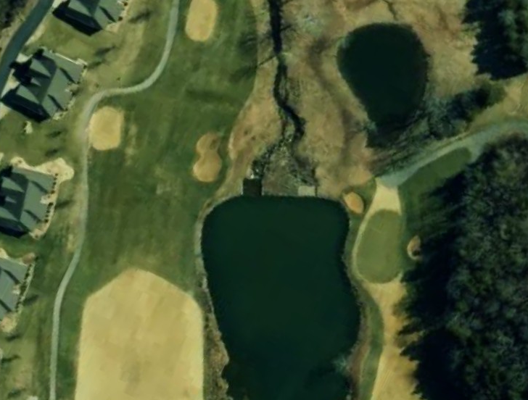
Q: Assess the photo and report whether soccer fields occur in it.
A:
No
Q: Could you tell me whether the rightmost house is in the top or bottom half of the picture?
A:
top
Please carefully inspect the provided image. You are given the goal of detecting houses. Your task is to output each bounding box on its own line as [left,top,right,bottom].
[67,0,126,35]
[0,159,56,232]
[0,253,27,323]
[15,45,84,121]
